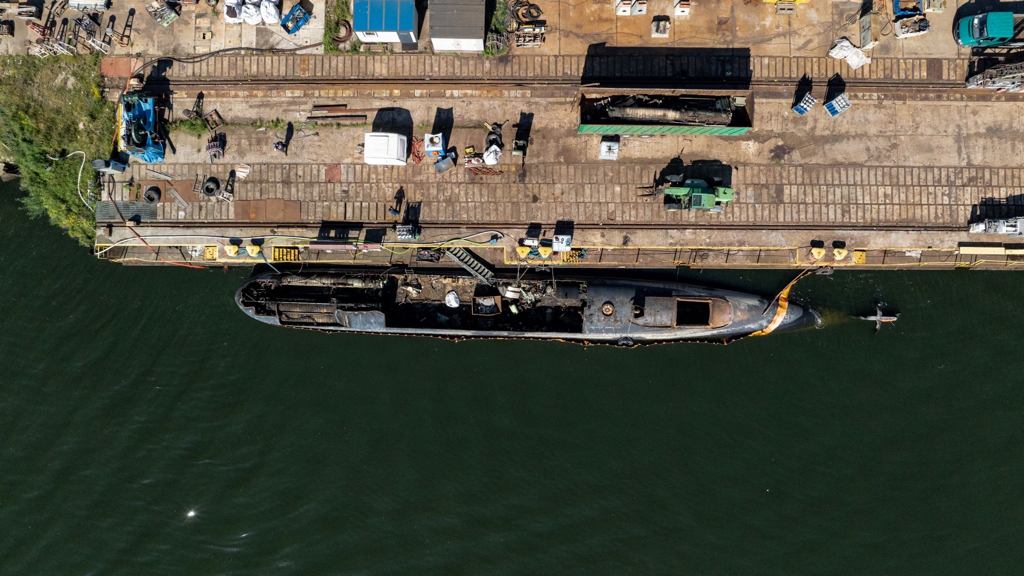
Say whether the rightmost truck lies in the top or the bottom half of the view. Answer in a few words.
top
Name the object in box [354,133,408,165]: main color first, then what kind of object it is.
white camper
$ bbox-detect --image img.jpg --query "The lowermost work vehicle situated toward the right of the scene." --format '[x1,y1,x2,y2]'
[636,175,734,212]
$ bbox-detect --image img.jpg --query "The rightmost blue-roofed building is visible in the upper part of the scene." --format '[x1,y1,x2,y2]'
[353,0,417,42]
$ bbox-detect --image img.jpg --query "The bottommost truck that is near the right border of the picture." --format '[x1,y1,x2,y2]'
[952,11,1024,50]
